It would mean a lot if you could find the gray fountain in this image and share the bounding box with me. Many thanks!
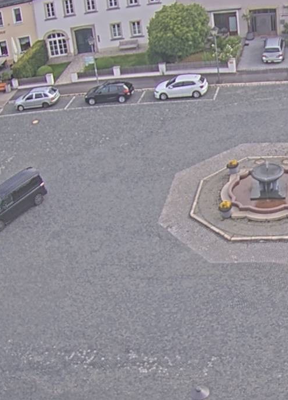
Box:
[215,157,288,225]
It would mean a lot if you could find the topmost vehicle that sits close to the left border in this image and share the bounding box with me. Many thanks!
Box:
[11,83,61,111]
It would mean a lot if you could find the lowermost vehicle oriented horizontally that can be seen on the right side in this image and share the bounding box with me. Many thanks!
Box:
[154,72,209,100]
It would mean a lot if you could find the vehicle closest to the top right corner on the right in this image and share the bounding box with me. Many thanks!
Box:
[258,36,283,64]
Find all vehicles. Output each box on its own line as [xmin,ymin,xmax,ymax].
[154,72,209,100]
[258,36,283,64]
[0,170,45,230]
[11,83,61,111]
[83,77,134,104]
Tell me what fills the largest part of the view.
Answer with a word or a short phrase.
paved ground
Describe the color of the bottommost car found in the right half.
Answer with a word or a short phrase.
white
